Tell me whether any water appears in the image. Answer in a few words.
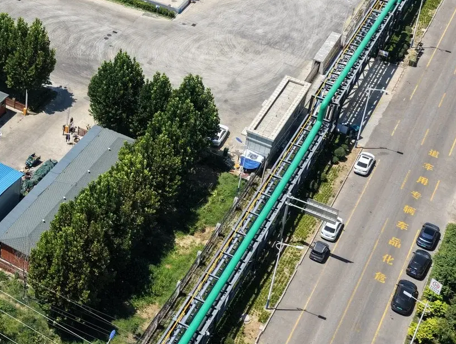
No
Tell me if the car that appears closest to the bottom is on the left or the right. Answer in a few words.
right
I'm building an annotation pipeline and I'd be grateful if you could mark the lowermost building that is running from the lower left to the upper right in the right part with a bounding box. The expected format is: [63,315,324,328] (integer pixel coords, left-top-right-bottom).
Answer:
[238,74,317,169]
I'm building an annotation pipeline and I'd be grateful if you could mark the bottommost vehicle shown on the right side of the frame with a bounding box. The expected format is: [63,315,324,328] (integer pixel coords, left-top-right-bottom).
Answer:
[392,282,420,315]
